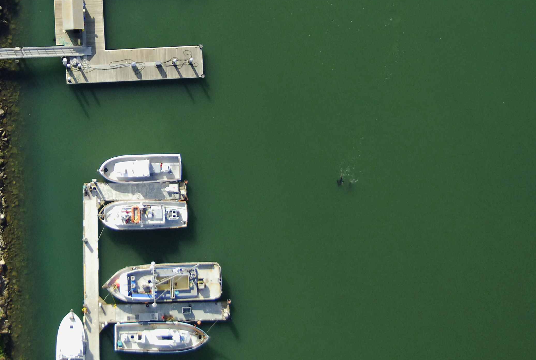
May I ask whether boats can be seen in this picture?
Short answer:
Yes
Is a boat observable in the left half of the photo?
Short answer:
Yes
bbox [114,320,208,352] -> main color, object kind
white boat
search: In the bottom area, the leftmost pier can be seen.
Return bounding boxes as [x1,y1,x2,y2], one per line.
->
[84,183,100,360]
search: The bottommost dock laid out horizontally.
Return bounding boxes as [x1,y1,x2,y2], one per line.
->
[99,297,229,332]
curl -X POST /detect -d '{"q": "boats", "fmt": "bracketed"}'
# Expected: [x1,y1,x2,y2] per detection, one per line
[102,261,222,307]
[98,200,187,229]
[56,309,87,360]
[114,320,208,352]
[97,154,181,182]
